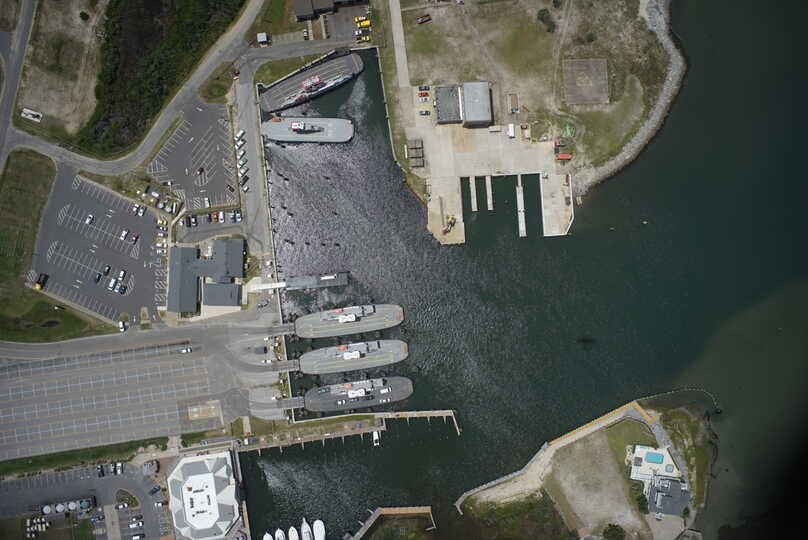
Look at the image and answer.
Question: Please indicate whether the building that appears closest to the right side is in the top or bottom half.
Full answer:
You can find the building that appears closest to the right side in the bottom half.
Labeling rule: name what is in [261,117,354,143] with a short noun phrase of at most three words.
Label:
ship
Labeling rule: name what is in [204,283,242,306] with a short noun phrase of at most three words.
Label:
building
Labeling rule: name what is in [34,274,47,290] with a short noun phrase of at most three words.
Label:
vehicle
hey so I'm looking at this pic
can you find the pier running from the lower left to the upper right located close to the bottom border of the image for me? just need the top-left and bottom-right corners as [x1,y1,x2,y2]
[347,508,381,540]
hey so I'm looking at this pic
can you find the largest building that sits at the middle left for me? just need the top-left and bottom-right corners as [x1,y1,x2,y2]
[167,239,245,312]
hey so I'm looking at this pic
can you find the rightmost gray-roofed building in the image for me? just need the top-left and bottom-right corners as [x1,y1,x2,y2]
[647,476,690,519]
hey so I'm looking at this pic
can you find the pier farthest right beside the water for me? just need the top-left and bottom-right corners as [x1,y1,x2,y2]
[544,176,573,235]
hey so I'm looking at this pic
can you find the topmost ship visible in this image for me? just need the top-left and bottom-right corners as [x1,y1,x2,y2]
[264,54,364,112]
